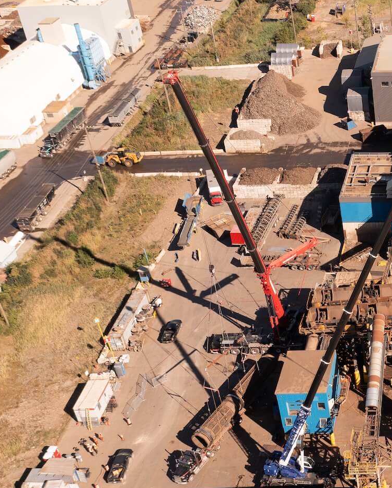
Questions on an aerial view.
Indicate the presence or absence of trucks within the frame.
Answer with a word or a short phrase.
Yes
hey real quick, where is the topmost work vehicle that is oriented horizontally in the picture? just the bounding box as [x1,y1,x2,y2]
[94,144,137,163]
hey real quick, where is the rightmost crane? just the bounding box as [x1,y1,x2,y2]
[247,207,392,488]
